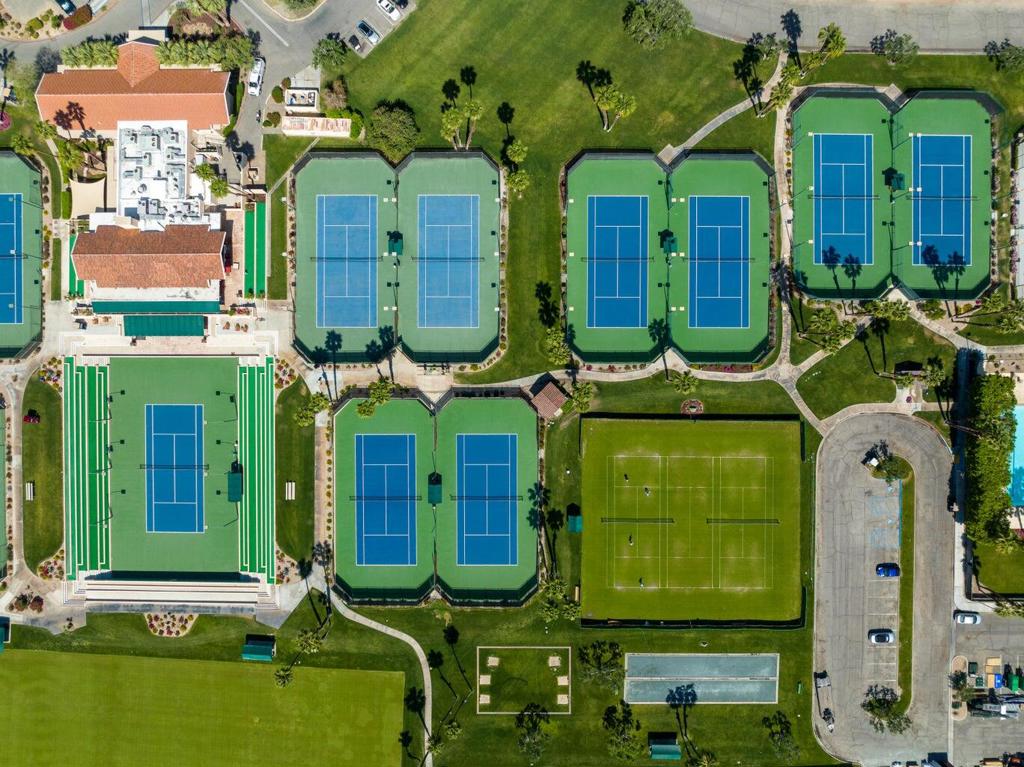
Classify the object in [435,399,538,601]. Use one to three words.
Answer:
tennis court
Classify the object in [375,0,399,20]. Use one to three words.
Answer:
car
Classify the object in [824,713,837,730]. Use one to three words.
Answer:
vehicle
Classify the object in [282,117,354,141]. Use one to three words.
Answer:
building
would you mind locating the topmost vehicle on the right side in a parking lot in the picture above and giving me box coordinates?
[877,565,901,578]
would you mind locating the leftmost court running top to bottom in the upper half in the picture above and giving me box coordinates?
[0,157,41,356]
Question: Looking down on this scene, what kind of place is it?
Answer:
sports ground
